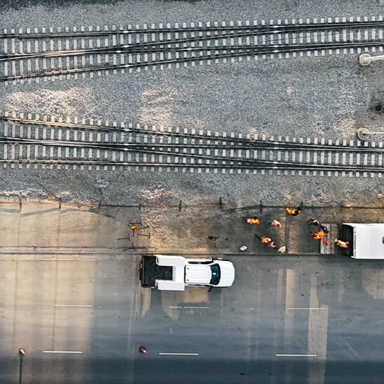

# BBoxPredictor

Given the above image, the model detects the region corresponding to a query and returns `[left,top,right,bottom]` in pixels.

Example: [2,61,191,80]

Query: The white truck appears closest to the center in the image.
[138,256,235,289]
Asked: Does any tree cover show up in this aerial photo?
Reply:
No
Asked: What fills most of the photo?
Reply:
paved ground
